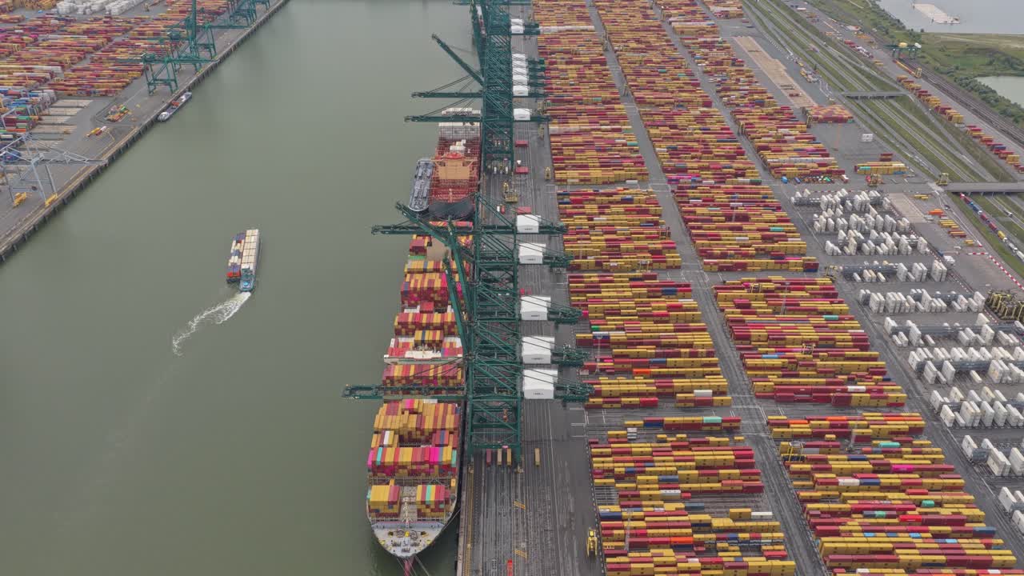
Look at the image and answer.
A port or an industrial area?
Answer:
port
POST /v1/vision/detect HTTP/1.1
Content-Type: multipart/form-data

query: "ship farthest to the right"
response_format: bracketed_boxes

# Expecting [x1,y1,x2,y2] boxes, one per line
[912,0,962,24]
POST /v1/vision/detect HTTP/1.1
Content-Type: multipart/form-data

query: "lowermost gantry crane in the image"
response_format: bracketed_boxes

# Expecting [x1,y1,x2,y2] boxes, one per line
[334,341,601,473]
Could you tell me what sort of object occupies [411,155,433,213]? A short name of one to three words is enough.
ship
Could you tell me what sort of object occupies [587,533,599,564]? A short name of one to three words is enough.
vehicle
